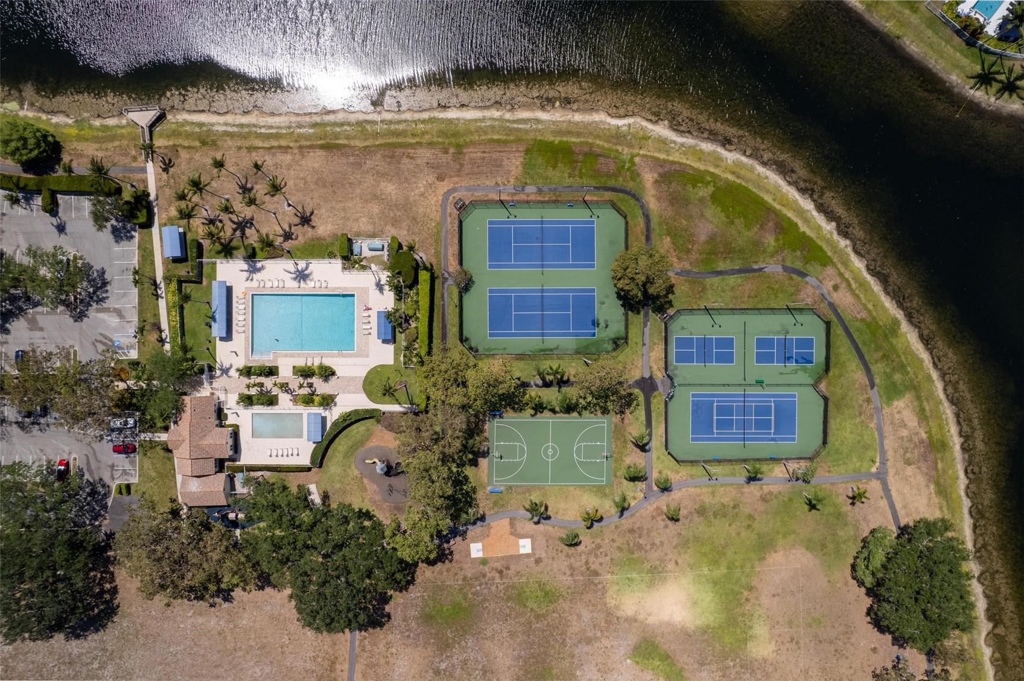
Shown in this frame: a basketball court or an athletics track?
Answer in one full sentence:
This aerial view contains a basketball court.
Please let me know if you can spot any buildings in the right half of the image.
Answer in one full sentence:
No, no building appears in the right half of the image.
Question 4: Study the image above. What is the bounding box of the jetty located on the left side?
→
[122,105,166,169]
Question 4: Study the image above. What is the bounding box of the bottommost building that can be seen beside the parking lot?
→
[164,396,233,507]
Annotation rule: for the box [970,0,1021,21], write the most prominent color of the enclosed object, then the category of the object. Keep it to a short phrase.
blue swimming pool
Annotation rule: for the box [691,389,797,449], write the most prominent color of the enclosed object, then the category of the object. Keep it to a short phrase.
blue tennis court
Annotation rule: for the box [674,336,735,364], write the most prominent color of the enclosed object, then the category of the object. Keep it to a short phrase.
blue sports court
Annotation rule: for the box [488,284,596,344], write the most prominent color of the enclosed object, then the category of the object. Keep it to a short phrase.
blue tennis court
